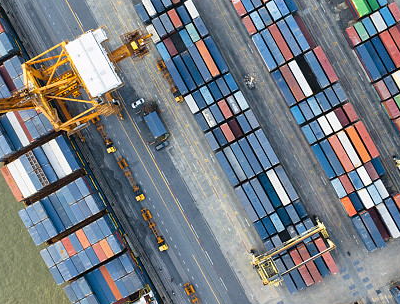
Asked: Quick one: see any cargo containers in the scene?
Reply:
Yes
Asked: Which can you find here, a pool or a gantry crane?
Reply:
gantry crane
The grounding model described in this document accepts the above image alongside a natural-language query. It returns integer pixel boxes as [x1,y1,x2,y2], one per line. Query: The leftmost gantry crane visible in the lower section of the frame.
[250,212,338,284]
